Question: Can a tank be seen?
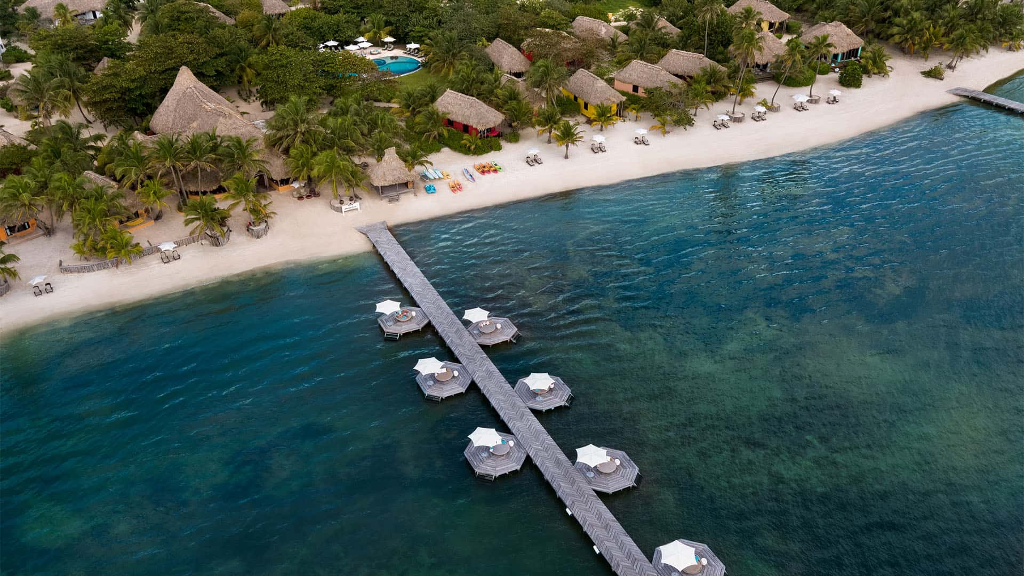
No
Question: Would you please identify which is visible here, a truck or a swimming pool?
swimming pool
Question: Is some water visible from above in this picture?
Yes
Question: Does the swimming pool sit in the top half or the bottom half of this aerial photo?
top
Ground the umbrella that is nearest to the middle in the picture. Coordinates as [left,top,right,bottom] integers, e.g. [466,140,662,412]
[461,308,489,325]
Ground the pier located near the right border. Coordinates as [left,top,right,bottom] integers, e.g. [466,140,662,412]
[943,88,1024,117]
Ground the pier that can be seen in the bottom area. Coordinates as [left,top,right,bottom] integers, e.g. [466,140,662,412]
[354,222,661,576]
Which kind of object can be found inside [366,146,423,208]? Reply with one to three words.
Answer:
shed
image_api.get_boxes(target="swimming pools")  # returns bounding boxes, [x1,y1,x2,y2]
[334,56,423,80]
